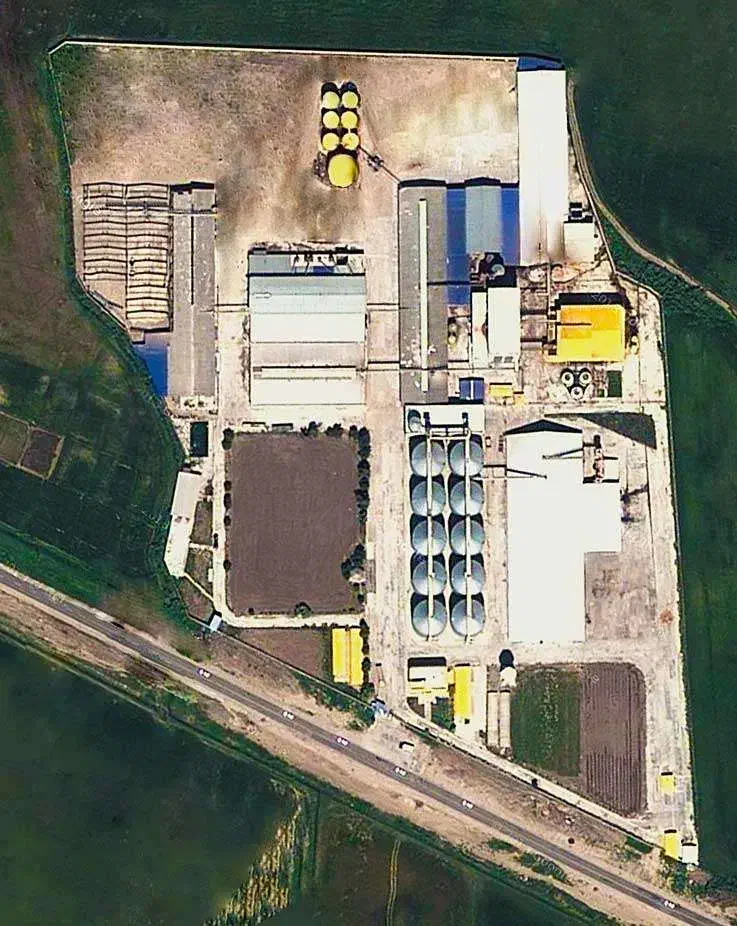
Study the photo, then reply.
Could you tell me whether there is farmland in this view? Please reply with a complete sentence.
Yes, there is farmland in the image.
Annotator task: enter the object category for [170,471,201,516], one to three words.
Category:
building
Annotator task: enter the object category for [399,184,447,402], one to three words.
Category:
shed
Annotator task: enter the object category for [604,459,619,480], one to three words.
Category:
house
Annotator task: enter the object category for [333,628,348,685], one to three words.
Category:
building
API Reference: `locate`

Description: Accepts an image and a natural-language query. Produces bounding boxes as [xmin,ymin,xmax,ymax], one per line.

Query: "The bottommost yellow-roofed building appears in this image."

[665,834,680,859]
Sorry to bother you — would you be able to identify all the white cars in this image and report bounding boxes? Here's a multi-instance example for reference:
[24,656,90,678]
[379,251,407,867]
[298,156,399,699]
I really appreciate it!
[395,766,407,774]
[200,669,211,677]
[665,901,676,908]
[284,710,295,718]
[337,737,348,744]
[463,799,473,807]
